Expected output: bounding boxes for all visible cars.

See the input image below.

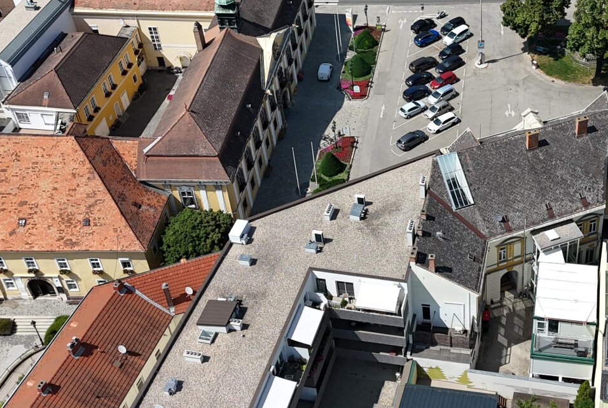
[398,99,428,118]
[440,14,466,32]
[435,54,465,74]
[427,82,458,104]
[427,111,460,134]
[432,70,458,88]
[443,25,471,43]
[404,68,436,87]
[401,82,434,103]
[410,16,438,33]
[415,29,440,45]
[396,128,430,152]
[423,98,455,120]
[408,54,439,73]
[440,42,465,58]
